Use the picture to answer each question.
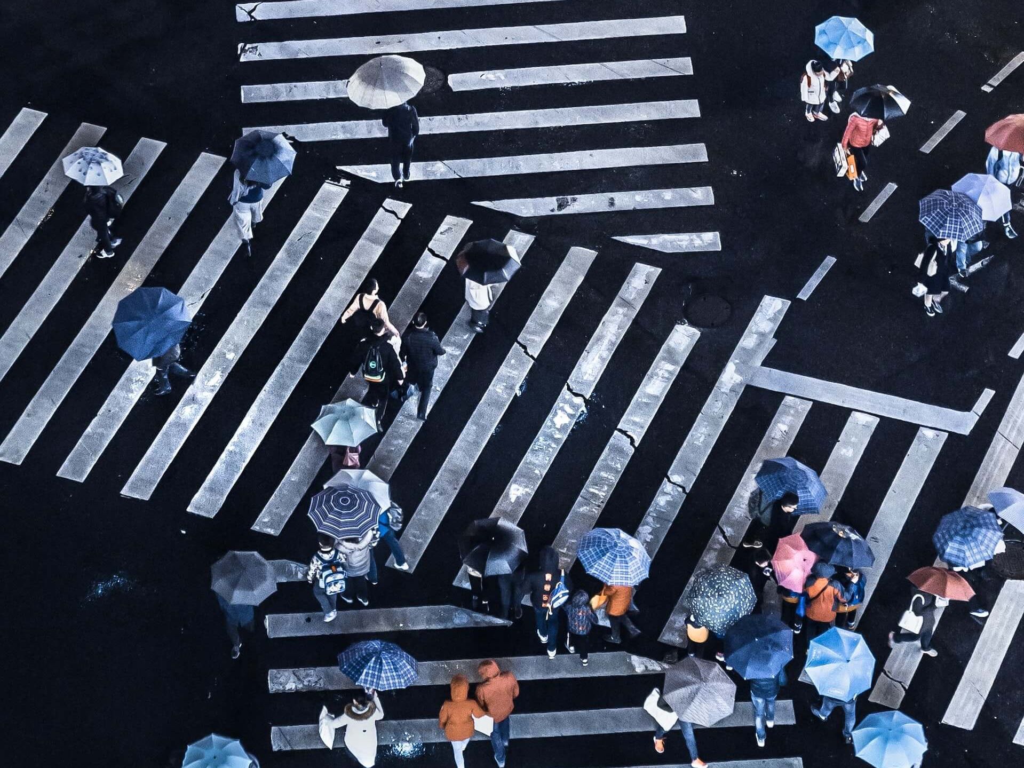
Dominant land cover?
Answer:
paved ground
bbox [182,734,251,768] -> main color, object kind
blue umbrella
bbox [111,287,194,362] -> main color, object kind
blue umbrella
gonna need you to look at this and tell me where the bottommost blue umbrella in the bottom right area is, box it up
[851,708,929,768]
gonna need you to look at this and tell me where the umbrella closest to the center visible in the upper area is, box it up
[454,235,521,294]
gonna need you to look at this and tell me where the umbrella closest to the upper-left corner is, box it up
[61,145,126,220]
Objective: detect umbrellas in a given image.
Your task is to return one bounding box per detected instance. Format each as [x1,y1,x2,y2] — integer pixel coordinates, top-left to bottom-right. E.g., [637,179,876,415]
[933,506,1005,569]
[919,190,983,242]
[229,130,297,192]
[312,397,379,471]
[182,734,251,768]
[850,82,911,138]
[577,528,651,596]
[686,565,758,634]
[662,656,738,730]
[722,612,796,683]
[111,287,194,362]
[61,145,126,220]
[813,16,875,73]
[801,516,876,572]
[307,488,378,541]
[955,173,1014,222]
[987,481,1024,556]
[211,550,278,612]
[454,235,521,294]
[752,456,828,514]
[905,561,978,618]
[347,57,426,139]
[984,112,1024,188]
[460,518,528,579]
[851,708,929,768]
[337,638,419,704]
[802,626,877,703]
